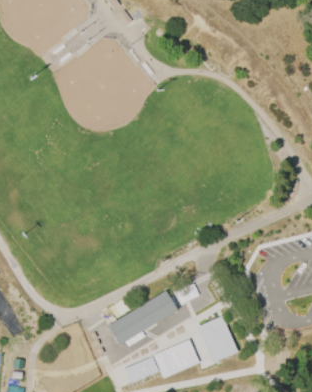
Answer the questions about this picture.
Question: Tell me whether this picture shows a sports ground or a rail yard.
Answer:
sports ground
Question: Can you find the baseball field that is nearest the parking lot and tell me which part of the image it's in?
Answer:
center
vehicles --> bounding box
[258,248,268,257]
[303,238,312,246]
[298,262,308,274]
[297,239,307,248]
